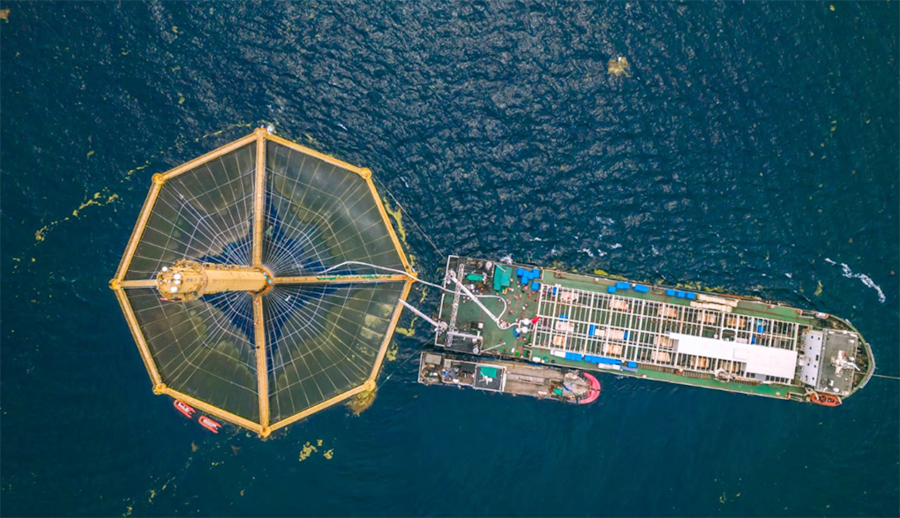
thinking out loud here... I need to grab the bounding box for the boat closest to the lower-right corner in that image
[809,393,843,407]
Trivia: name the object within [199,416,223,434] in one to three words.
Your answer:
boat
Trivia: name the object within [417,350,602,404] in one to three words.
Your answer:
boat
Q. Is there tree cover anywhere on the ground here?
No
